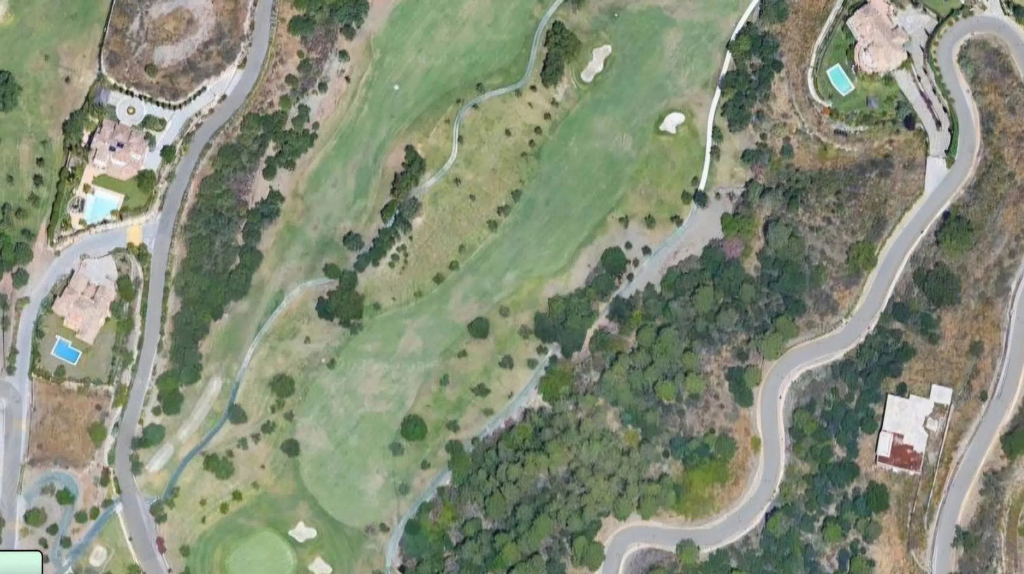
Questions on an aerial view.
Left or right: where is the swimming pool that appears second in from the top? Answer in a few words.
left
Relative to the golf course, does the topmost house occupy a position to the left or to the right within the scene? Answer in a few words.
right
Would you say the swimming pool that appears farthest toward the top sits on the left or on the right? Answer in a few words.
right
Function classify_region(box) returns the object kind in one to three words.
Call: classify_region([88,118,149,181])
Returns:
house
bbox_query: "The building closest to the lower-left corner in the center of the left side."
[49,271,115,346]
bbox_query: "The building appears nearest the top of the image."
[846,0,910,72]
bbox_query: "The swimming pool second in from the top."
[83,185,125,224]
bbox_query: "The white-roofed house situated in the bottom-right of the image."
[877,384,954,472]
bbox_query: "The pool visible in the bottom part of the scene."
[51,335,82,365]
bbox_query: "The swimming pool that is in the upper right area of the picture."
[826,63,854,96]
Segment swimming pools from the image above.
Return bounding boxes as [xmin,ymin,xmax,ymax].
[83,185,125,224]
[826,63,854,96]
[51,335,82,365]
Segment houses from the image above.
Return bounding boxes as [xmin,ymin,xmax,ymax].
[846,0,910,72]
[88,118,149,181]
[877,384,954,472]
[49,271,115,346]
